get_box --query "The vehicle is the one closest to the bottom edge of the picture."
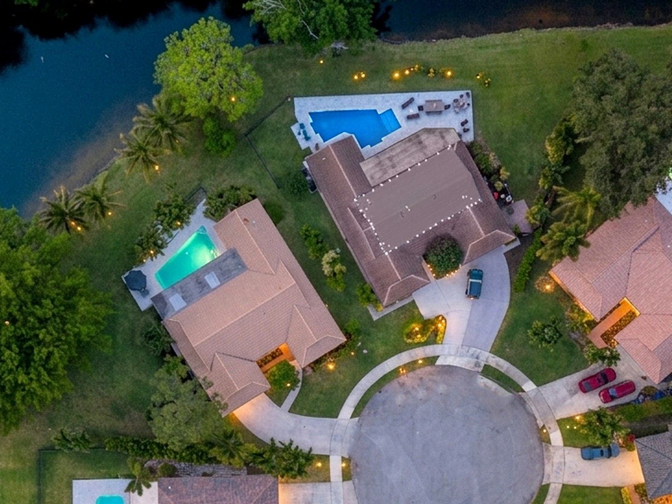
[577,444,621,462]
